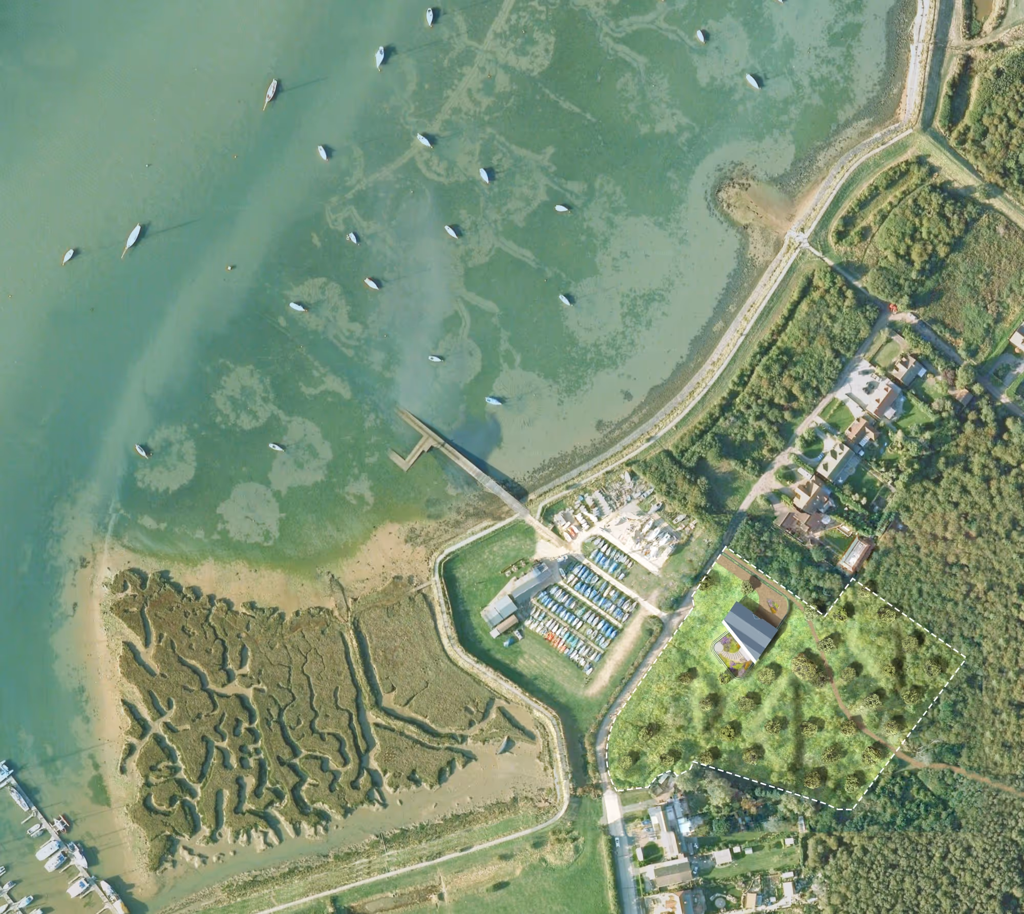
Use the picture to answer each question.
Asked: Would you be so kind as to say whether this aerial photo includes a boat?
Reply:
Yes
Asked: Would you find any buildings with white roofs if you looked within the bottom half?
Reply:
Yes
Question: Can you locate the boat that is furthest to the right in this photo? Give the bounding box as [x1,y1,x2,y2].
[745,71,760,88]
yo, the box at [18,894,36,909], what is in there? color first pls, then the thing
white boat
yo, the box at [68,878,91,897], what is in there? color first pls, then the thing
white boat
